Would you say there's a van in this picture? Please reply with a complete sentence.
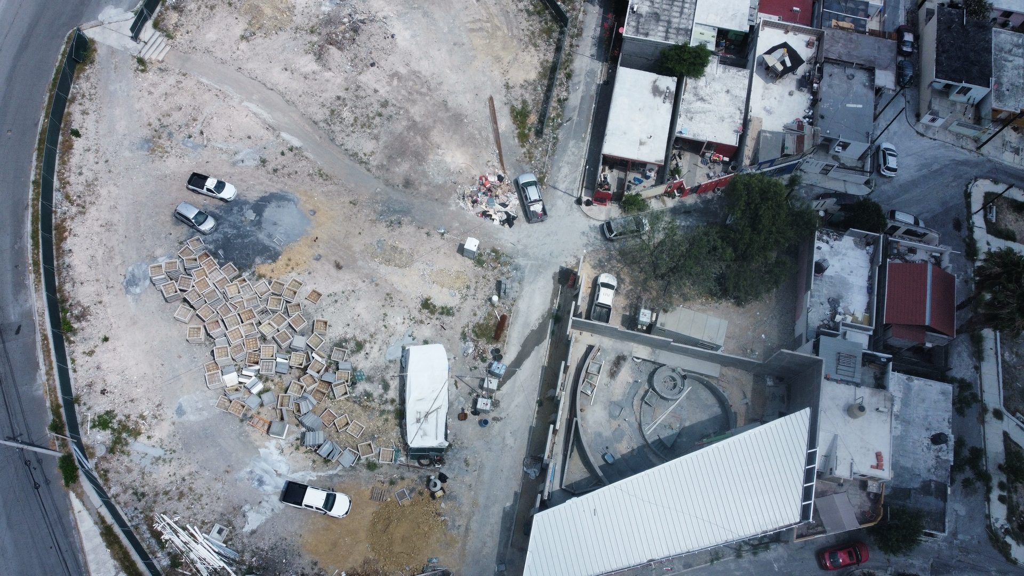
Yes, you can see a van in this photo.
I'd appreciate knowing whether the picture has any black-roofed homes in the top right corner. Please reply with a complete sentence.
Yes, I can see a black-roofed home in the top right corner.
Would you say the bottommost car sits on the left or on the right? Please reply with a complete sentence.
It is on the right.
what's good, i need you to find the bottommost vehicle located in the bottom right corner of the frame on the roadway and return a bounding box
[813,540,871,573]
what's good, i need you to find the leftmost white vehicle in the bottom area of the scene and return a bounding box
[278,479,351,519]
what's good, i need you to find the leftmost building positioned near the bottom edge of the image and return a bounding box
[520,408,818,576]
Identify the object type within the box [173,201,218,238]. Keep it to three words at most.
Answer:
car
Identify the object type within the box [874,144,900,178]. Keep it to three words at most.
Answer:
car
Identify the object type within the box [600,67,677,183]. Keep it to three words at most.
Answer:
house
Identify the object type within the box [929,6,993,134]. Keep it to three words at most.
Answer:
house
